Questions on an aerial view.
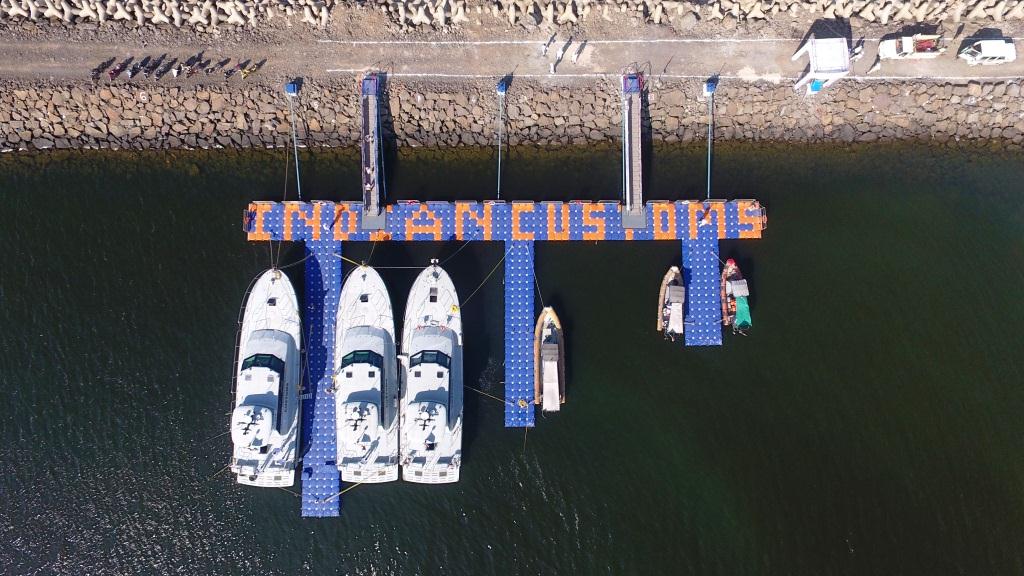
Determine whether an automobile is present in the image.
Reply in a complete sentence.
Yes, an automobile can be made out from above.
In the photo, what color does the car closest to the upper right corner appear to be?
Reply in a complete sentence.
The car closest to the upper right corner is white.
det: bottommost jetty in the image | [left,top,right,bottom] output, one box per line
[244,198,767,518]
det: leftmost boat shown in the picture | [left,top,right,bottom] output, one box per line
[229,261,304,487]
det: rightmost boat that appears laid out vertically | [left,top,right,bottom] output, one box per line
[719,259,751,333]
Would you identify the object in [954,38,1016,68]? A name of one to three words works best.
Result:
car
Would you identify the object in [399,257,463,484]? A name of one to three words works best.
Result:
boat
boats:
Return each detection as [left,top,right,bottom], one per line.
[533,308,565,412]
[399,257,463,484]
[229,261,304,487]
[719,259,751,333]
[333,258,399,483]
[655,266,688,337]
